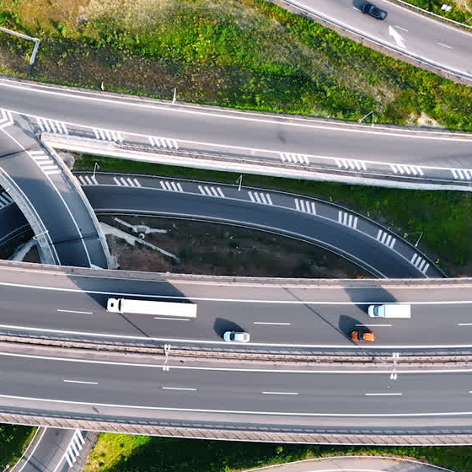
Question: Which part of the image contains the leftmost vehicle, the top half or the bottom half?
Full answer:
The leftmost vehicle sits in the bottom half of the picture.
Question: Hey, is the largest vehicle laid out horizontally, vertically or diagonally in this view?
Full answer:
The largest vehicle is laid out horizontally.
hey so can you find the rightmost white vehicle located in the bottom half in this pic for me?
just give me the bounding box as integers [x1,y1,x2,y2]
[368,304,415,318]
